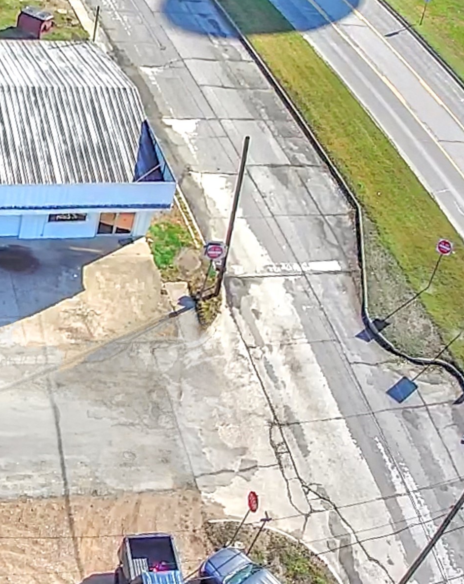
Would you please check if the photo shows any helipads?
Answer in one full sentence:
No, no helipad is visible in the view.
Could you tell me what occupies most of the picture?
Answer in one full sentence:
What you mostly see from above here is paved ground.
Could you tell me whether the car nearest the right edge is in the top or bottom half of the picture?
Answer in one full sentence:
The bottom half of the photo is where the car nearest the right edge is.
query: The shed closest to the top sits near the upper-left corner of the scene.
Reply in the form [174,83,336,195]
[18,0,58,39]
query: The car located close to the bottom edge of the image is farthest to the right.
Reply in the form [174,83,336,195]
[188,540,272,584]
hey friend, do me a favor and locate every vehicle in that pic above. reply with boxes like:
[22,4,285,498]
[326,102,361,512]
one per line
[188,540,272,584]
[123,538,185,584]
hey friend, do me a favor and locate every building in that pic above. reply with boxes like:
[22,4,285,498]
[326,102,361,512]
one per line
[18,0,58,39]
[0,39,178,238]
